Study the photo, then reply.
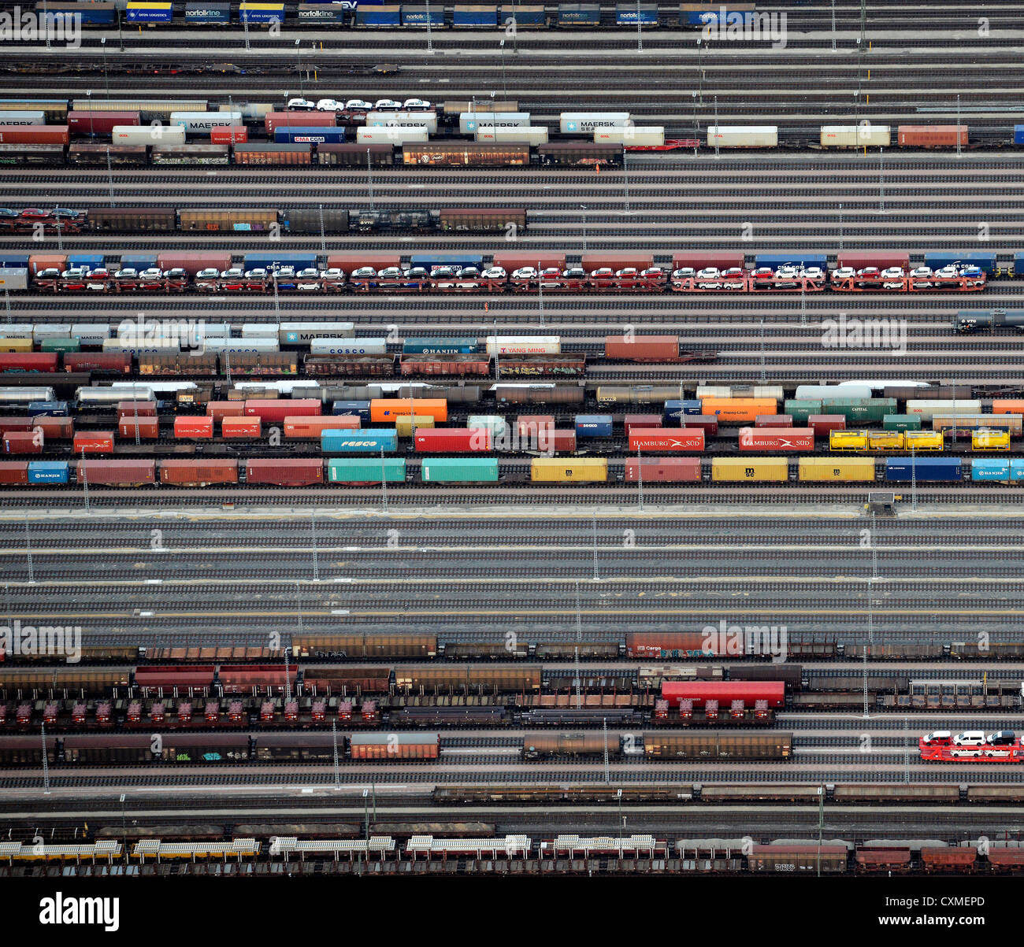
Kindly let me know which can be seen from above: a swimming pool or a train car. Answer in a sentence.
Visible in the photo is a train car.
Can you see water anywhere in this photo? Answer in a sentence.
No, there's no water in this view.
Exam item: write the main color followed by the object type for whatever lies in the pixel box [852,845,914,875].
red rail car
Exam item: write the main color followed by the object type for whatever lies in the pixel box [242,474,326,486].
red rail car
